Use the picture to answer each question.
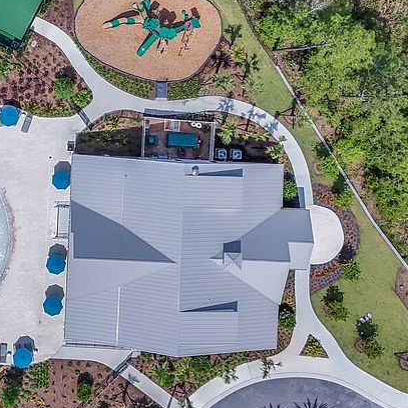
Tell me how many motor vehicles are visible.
zero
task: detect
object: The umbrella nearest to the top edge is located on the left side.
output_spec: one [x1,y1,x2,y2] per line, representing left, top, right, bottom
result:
[0,105,19,125]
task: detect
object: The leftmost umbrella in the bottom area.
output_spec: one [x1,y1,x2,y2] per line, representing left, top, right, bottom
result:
[13,347,34,368]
